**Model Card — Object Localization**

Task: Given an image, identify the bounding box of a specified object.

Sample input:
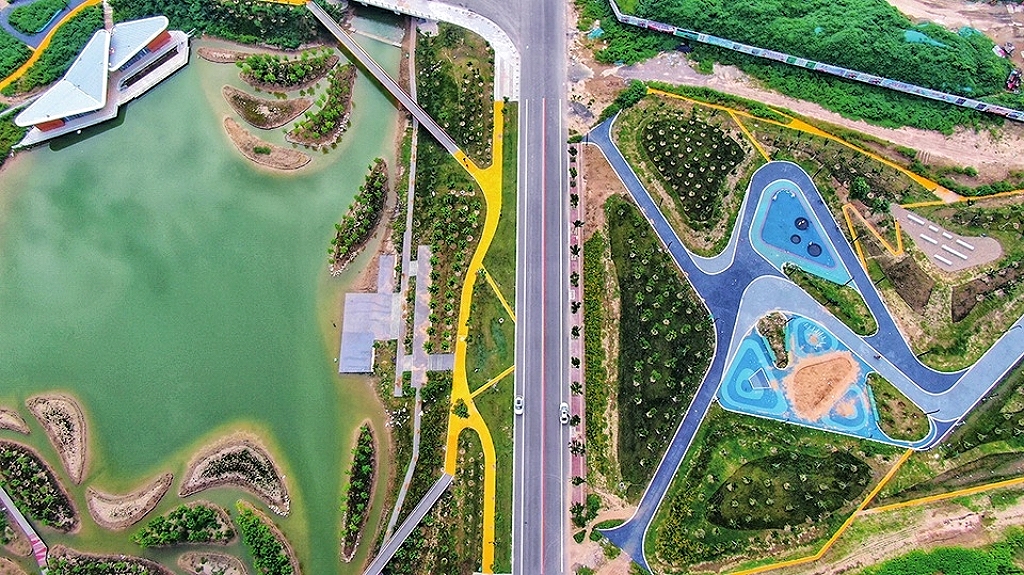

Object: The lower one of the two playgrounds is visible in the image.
[719,311,937,447]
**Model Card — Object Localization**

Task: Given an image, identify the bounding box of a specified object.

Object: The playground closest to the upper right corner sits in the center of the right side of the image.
[749,179,862,293]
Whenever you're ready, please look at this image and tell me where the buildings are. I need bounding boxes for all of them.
[12,14,194,151]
